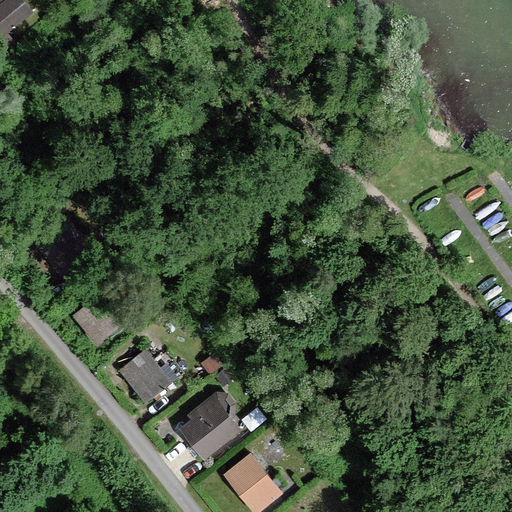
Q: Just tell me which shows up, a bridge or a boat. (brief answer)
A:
boat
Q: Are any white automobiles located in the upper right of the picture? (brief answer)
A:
No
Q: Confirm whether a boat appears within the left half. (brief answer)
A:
No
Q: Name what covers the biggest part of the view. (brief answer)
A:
trees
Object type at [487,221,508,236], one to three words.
boat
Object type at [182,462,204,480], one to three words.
car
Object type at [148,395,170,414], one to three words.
car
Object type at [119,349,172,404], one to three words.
house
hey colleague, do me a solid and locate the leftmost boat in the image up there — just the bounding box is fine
[418,198,440,213]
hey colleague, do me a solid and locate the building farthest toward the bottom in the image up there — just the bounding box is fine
[222,453,282,512]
